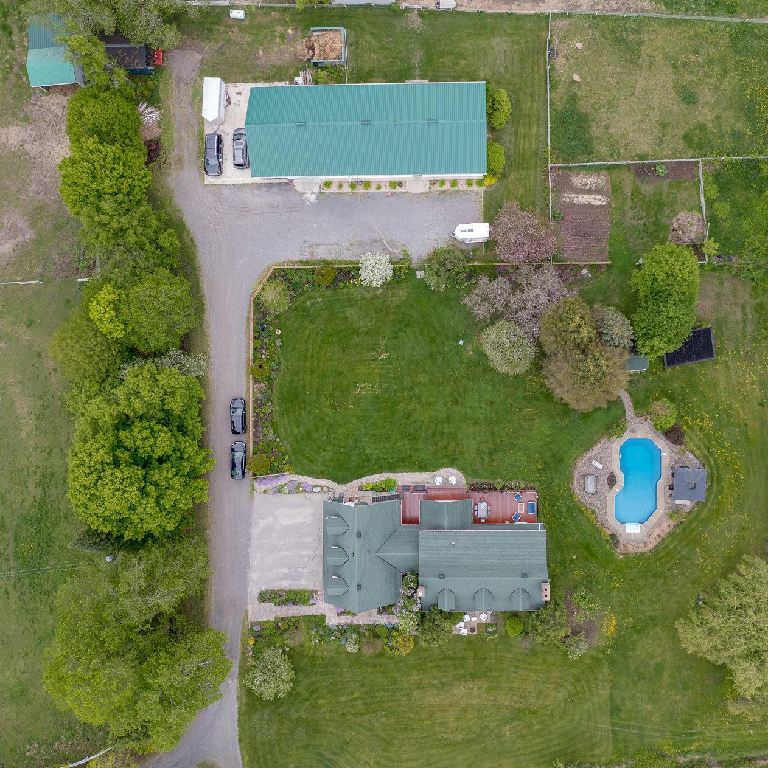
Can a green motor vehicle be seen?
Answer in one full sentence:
No, I find no green motor vehicle anywhere in the image.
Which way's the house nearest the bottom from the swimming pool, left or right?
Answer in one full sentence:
Relative to the swimming pool, the house nearest the bottom is on the left.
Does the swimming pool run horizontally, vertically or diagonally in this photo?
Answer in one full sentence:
From this overhead view, the swimming pool appears to run vertically.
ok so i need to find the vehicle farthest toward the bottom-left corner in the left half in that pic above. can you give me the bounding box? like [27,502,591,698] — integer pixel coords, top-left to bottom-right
[229,443,246,478]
